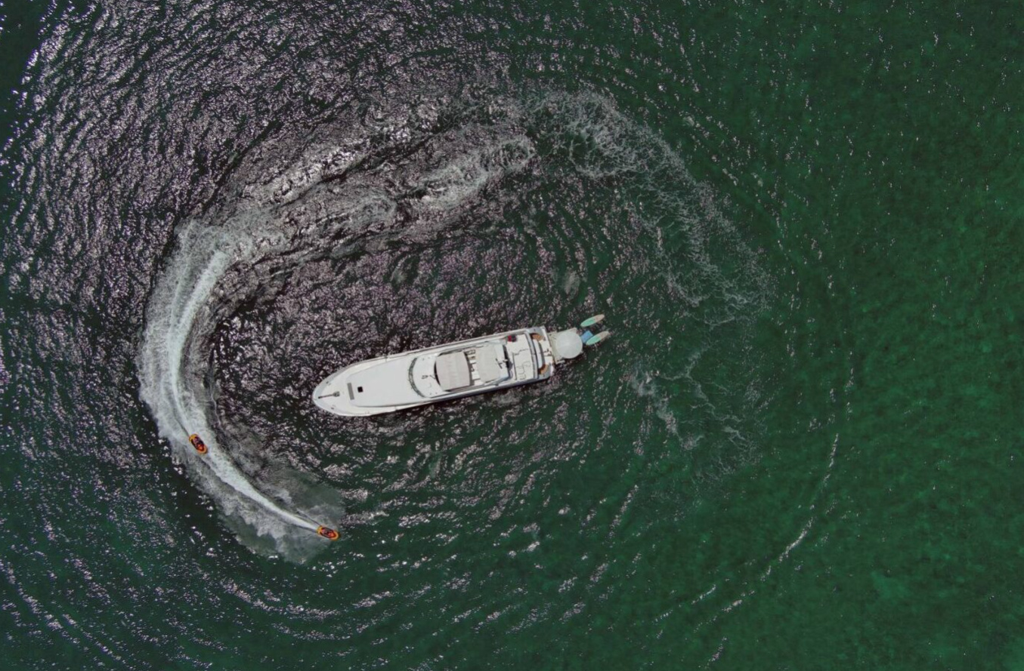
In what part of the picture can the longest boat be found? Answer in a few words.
center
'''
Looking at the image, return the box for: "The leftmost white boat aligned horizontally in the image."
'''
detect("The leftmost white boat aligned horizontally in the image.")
[313,326,582,414]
